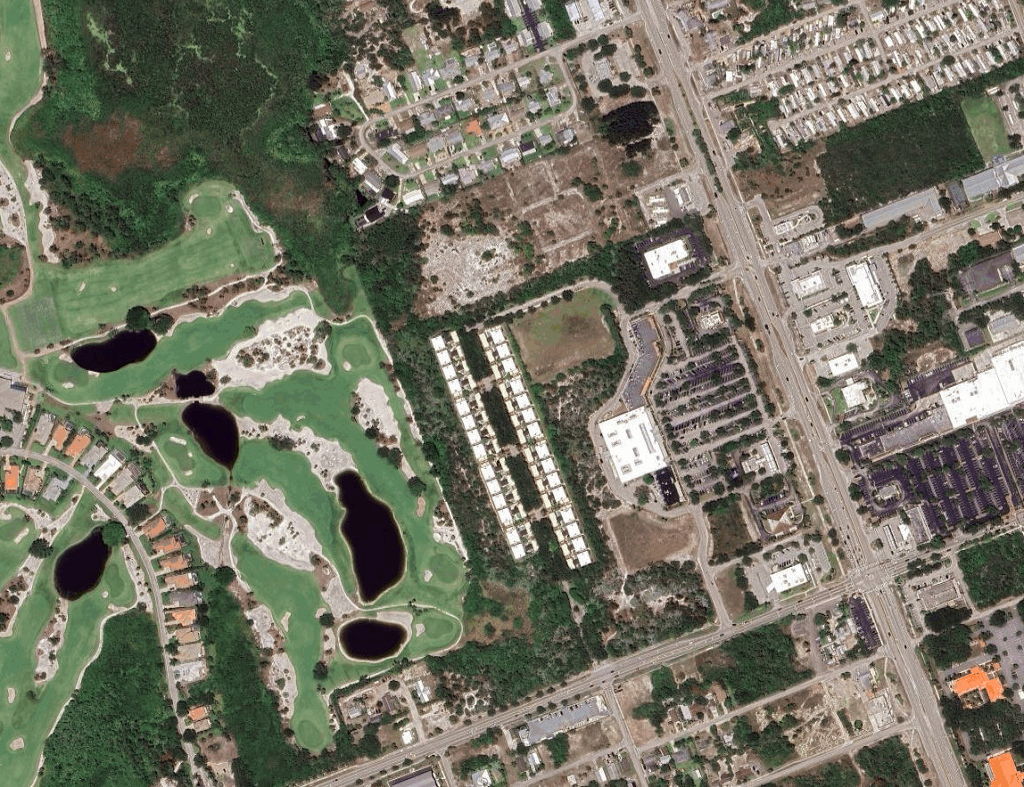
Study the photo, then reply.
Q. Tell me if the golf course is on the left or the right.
left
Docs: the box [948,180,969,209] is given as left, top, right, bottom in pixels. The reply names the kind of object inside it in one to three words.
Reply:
building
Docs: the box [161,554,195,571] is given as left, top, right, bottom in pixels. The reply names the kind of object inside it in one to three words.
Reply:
house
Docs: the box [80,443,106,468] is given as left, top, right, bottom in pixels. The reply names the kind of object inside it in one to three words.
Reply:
house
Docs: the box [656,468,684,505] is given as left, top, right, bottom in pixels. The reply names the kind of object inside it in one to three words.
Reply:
building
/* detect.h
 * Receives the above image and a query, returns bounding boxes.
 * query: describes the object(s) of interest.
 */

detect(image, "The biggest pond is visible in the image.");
[335,470,405,605]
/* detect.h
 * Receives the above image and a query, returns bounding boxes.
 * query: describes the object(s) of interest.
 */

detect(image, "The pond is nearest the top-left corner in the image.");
[71,328,157,372]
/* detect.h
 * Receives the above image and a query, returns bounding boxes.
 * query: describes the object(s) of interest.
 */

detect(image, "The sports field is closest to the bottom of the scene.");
[964,95,1009,158]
